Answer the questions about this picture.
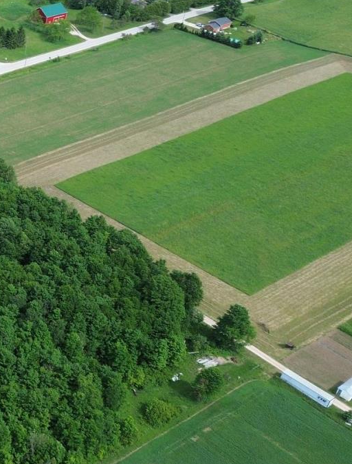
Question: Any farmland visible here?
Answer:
Yes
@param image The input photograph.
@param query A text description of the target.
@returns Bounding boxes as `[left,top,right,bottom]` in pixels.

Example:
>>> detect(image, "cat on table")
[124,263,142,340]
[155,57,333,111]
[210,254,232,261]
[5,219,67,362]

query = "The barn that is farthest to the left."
[32,1,69,24]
